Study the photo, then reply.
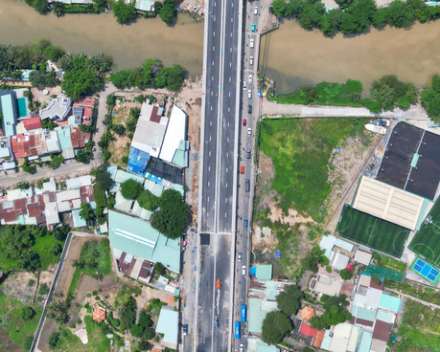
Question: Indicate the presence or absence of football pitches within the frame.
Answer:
Yes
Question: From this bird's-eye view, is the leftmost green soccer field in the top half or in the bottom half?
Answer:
bottom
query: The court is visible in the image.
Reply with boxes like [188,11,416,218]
[410,256,440,285]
